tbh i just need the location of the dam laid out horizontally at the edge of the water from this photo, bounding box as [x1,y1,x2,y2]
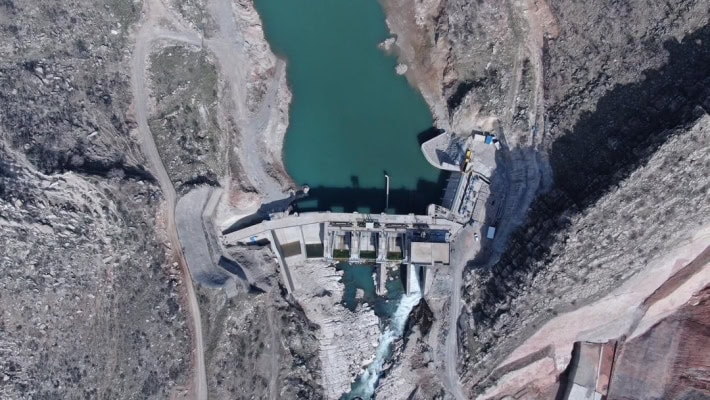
[223,210,463,295]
